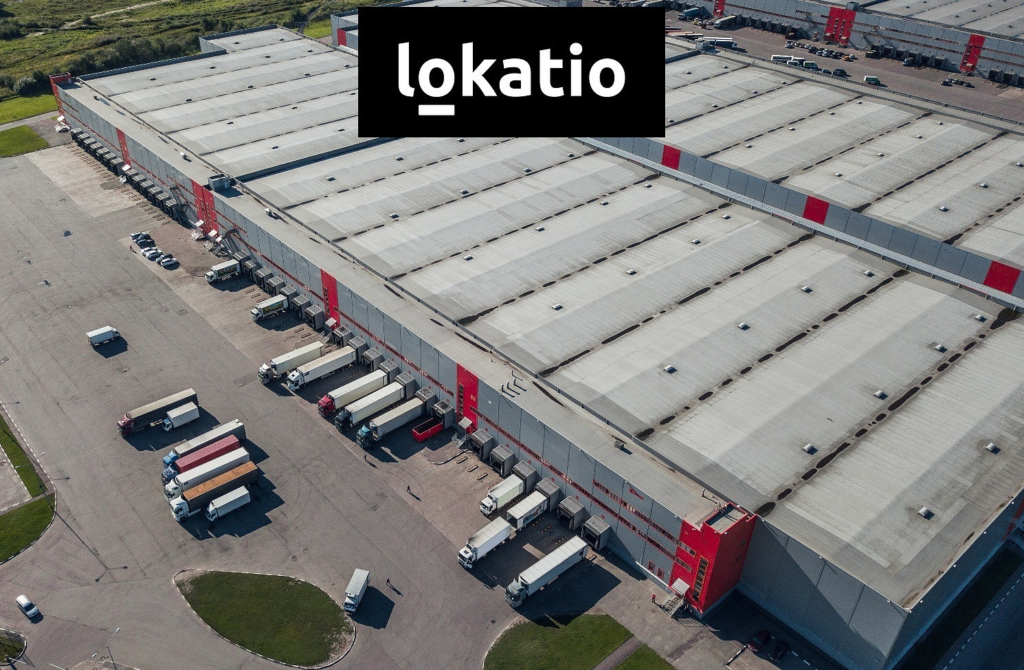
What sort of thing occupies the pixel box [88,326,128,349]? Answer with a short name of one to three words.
truck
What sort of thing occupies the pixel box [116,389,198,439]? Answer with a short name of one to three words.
truck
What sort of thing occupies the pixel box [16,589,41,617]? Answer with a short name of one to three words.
vehicle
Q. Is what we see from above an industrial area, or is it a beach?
industrial area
